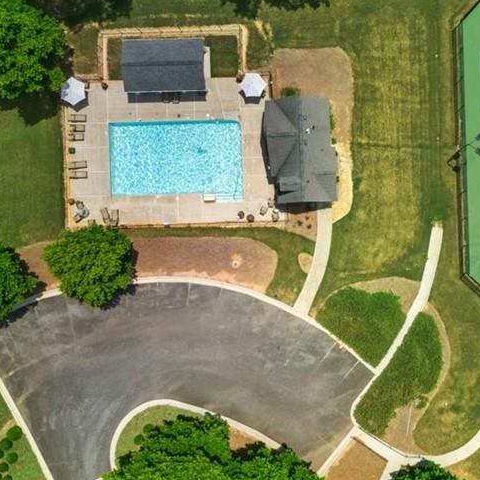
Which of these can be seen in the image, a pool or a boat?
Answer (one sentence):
Visible in the photo is a pool.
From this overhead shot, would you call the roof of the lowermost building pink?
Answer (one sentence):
No, the roof of the lowermost building is gray.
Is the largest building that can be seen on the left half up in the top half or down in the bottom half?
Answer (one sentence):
The largest building that can be seen on the left half sits in the top half of the picture.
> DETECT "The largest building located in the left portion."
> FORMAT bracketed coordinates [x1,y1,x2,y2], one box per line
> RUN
[121,37,211,97]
